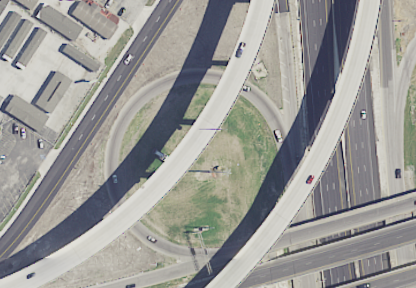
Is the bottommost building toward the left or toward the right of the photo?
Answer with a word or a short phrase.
left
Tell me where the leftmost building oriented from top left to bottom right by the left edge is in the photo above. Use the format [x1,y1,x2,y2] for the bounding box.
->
[5,96,49,132]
